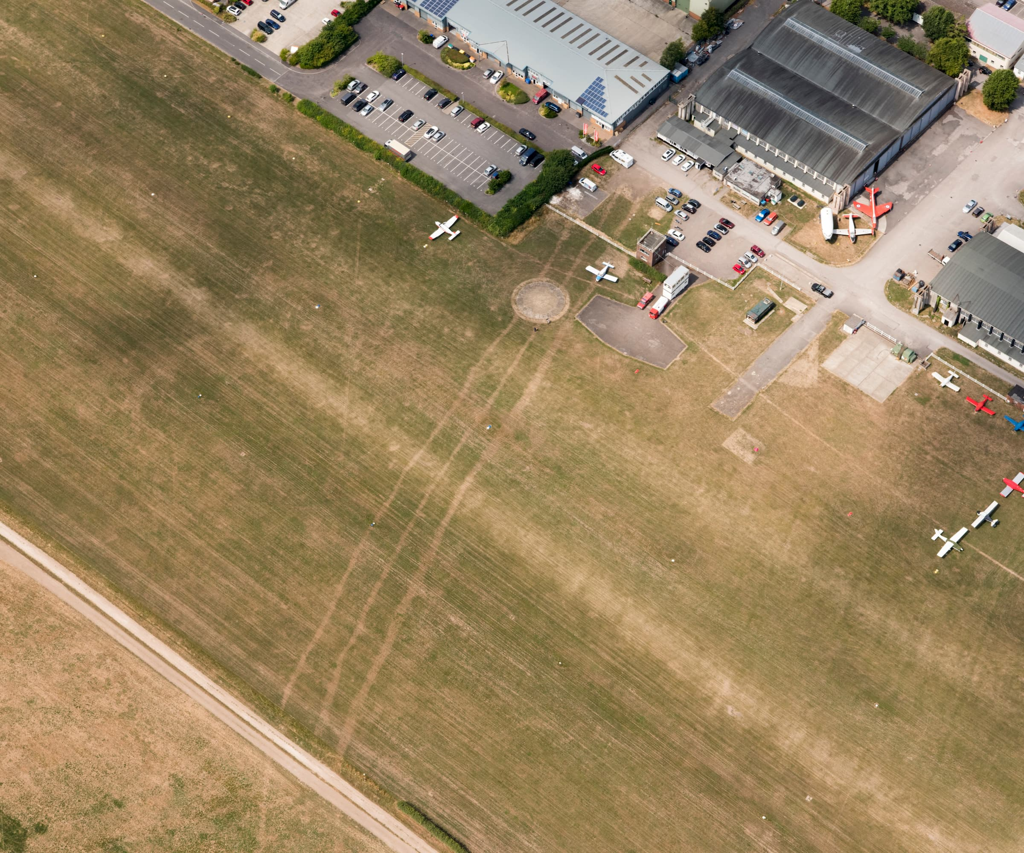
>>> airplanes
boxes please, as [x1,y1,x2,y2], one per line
[973,500,1004,531]
[932,527,969,558]
[431,214,461,239]
[833,211,873,242]
[584,260,619,283]
[1003,411,1024,434]
[964,390,997,416]
[854,182,893,226]
[931,366,963,392]
[1000,472,1024,498]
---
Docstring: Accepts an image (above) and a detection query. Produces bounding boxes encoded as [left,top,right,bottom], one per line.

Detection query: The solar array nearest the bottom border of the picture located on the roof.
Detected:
[576,73,610,117]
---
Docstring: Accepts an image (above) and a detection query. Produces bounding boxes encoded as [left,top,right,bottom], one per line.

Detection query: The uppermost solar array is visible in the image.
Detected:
[410,0,460,20]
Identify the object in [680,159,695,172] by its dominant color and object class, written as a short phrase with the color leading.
white vehicle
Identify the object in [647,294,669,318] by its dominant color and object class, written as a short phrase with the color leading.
white truck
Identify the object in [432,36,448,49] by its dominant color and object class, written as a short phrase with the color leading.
white vehicle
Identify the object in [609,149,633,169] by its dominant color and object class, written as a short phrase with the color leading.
white camper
